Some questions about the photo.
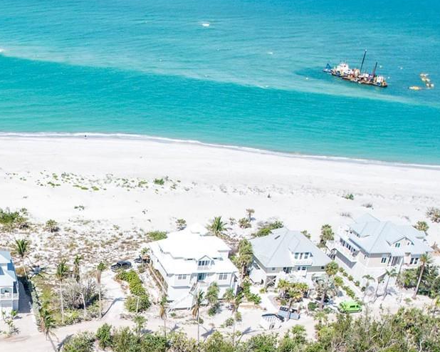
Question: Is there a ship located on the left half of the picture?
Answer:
No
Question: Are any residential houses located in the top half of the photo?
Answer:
No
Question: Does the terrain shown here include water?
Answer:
Yes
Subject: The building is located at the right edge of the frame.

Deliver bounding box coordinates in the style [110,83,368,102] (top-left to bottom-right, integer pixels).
[329,213,438,297]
